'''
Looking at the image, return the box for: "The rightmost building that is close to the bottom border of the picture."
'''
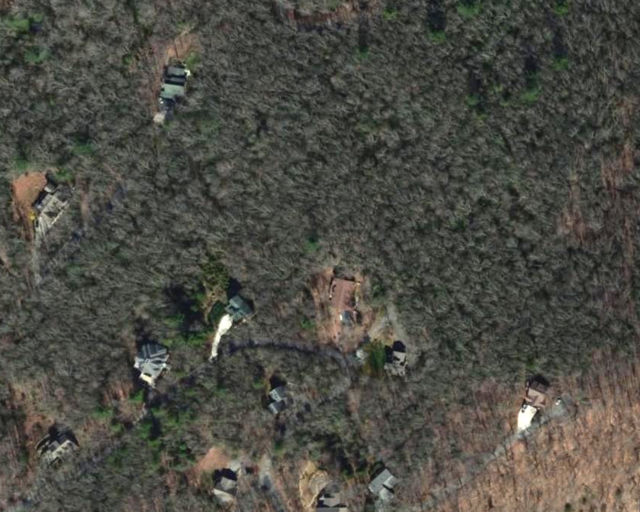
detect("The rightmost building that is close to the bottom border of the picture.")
[366,470,398,506]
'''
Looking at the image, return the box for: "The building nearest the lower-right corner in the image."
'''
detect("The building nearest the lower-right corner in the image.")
[524,380,549,408]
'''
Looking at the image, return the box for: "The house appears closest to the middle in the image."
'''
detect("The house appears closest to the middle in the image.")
[331,277,361,310]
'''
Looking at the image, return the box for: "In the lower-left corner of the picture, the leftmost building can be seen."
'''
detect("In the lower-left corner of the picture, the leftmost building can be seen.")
[36,430,79,459]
